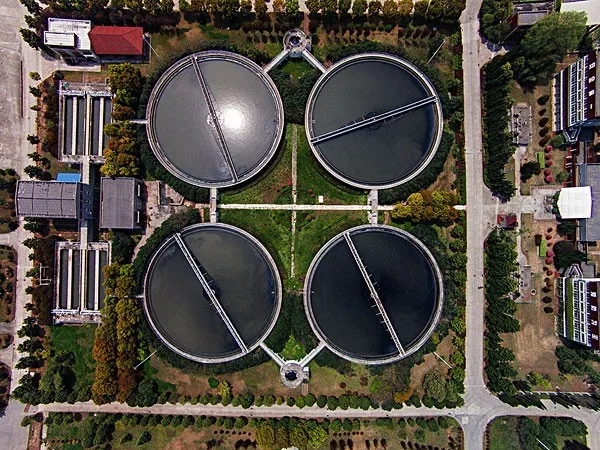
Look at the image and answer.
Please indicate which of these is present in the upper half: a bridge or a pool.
bridge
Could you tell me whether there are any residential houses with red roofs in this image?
Yes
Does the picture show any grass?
Yes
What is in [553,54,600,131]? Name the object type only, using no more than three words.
building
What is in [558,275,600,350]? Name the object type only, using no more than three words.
building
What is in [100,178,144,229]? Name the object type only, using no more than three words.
house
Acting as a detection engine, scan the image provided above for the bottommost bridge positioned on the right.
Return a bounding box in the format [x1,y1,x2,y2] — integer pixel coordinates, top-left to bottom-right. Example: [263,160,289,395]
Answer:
[343,233,407,355]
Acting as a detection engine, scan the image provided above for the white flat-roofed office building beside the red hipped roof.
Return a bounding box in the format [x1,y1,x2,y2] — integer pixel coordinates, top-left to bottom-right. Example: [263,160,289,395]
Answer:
[43,17,98,58]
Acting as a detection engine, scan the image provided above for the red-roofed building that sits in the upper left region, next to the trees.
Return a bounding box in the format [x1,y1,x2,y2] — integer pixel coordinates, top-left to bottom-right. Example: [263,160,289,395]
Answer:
[90,26,146,59]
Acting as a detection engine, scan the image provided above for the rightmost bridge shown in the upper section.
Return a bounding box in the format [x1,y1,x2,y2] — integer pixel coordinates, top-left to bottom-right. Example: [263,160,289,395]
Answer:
[309,96,439,145]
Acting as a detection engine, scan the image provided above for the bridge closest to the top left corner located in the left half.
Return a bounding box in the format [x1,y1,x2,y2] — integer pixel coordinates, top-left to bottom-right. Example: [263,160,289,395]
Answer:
[190,54,241,184]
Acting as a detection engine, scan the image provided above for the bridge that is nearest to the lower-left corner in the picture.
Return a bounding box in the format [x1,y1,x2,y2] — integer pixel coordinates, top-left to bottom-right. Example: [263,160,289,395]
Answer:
[173,234,251,353]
